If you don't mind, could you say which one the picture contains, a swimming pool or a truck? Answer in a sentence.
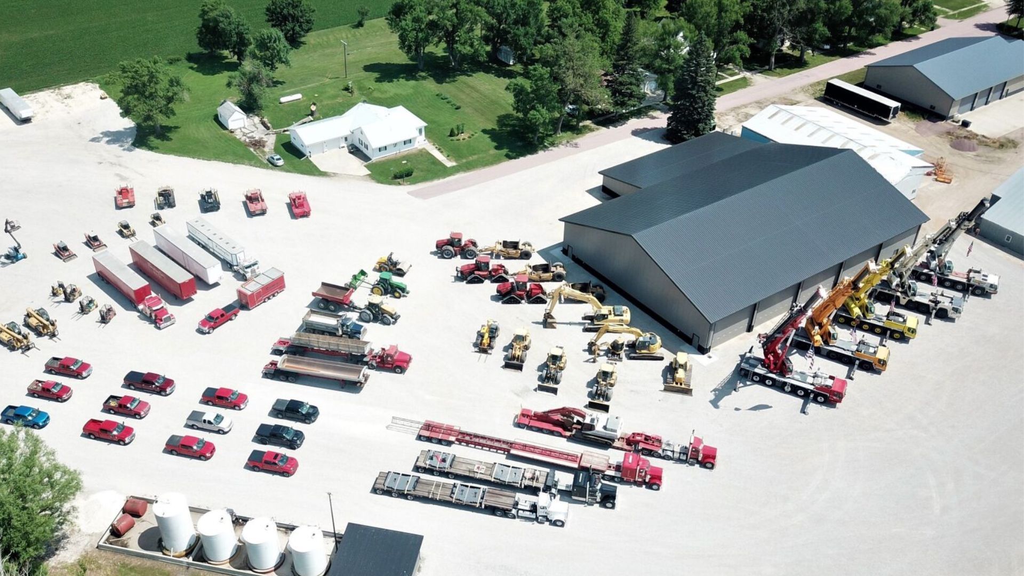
There is a truck in the scene.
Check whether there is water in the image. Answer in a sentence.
No, no water is visible.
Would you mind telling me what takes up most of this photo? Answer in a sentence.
The scene is dominated by paved ground.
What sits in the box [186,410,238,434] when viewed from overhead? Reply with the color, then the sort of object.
white truck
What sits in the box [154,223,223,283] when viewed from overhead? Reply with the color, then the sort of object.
white trailer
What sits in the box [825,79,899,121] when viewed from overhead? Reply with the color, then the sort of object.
black trailer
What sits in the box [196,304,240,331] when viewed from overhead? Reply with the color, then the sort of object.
red truck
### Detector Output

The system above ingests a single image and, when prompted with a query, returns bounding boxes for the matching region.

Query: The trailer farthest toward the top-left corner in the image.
[0,88,36,126]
